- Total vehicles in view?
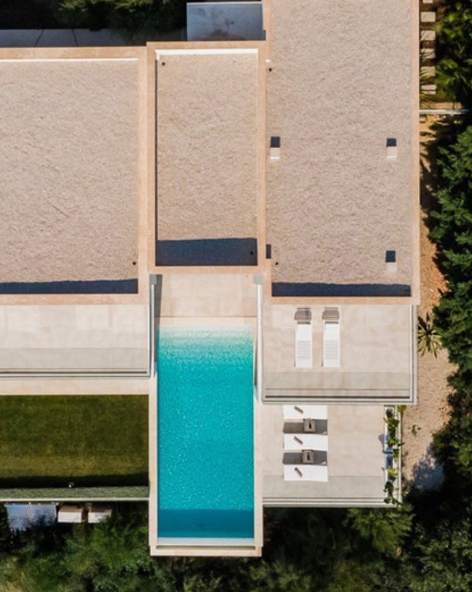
0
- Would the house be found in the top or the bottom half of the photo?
top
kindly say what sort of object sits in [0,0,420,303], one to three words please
house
